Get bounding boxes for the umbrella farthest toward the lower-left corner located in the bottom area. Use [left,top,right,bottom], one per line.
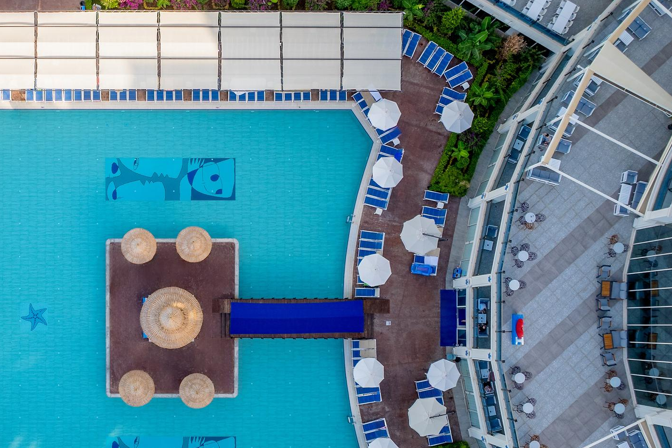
[119,370,155,407]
